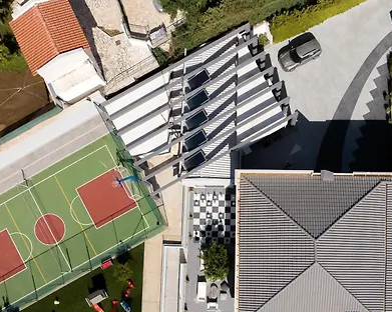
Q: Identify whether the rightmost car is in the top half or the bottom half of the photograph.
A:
top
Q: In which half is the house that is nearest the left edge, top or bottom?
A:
top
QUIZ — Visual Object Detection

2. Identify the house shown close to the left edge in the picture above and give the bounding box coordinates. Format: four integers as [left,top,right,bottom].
[7,0,112,111]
